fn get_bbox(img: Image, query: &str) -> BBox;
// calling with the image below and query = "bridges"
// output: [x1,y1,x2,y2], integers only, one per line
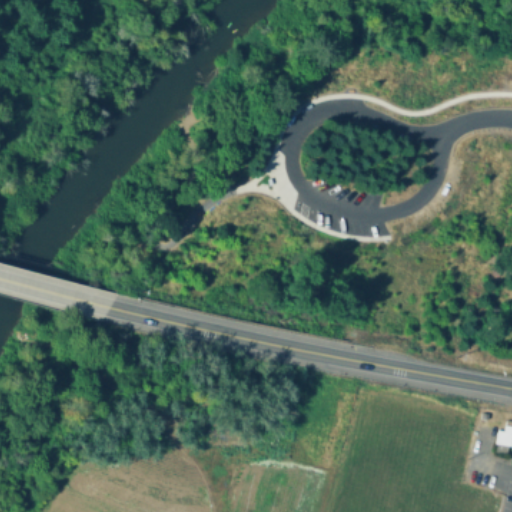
[0,262,117,322]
